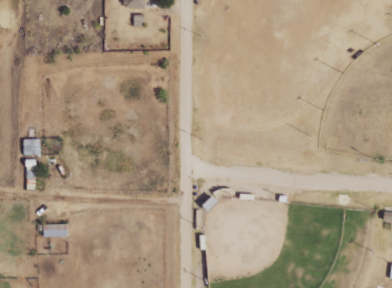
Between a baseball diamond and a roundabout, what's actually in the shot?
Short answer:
baseball diamond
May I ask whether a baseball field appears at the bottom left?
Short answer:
No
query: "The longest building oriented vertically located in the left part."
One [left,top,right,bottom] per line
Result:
[25,158,37,190]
